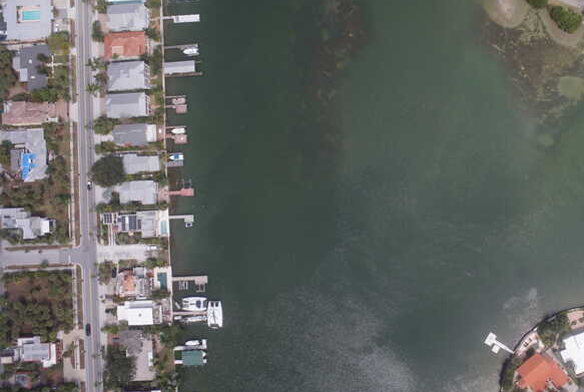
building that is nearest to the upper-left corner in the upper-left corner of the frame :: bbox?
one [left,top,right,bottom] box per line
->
[4,0,57,43]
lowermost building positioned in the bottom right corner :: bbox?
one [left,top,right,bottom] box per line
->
[516,353,567,392]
